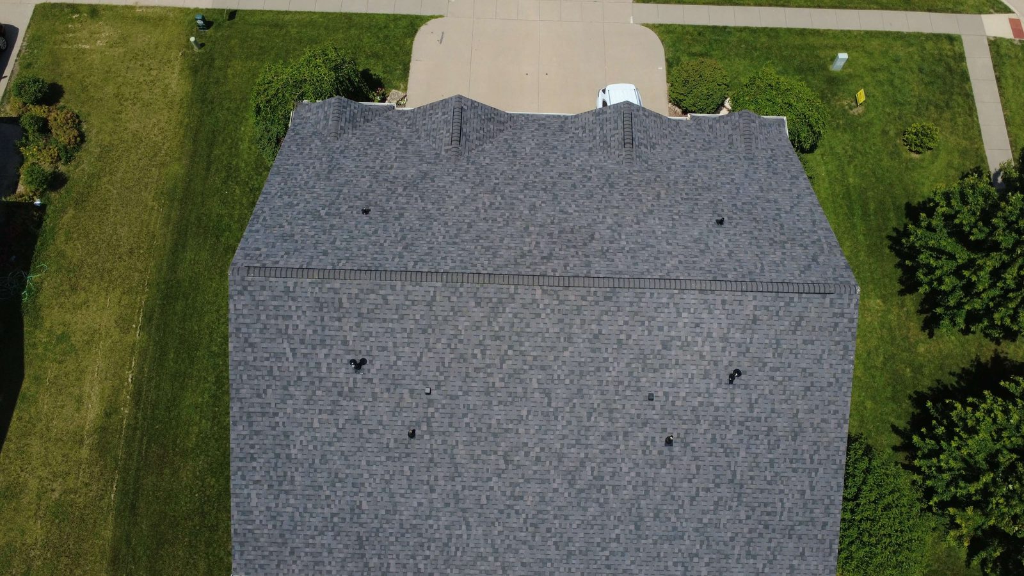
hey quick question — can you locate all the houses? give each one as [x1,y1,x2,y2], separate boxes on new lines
[229,96,859,576]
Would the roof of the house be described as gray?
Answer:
Yes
